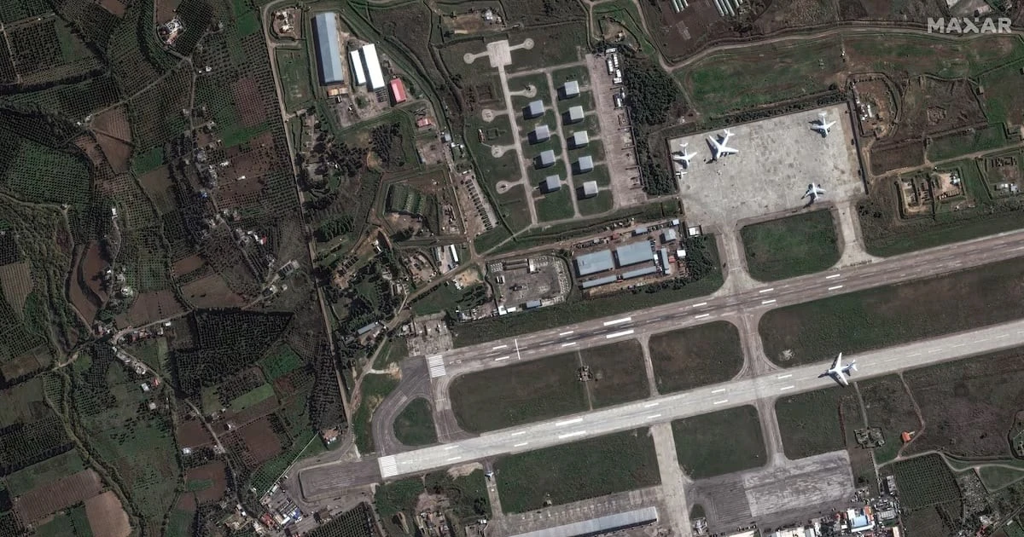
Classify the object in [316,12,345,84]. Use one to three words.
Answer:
hangar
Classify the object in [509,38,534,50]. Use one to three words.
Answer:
helipad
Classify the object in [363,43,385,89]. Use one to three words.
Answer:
building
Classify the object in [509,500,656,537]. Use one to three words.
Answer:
shed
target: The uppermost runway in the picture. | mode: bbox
[427,229,1024,379]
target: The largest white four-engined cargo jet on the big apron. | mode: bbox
[709,128,739,160]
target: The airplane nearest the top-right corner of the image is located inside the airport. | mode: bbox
[814,111,836,134]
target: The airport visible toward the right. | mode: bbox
[299,40,1024,537]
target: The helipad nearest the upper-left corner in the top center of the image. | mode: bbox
[463,50,489,62]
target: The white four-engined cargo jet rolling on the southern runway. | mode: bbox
[827,349,858,382]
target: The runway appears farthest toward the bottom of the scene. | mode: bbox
[378,320,1024,478]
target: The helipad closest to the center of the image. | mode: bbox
[497,178,527,192]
